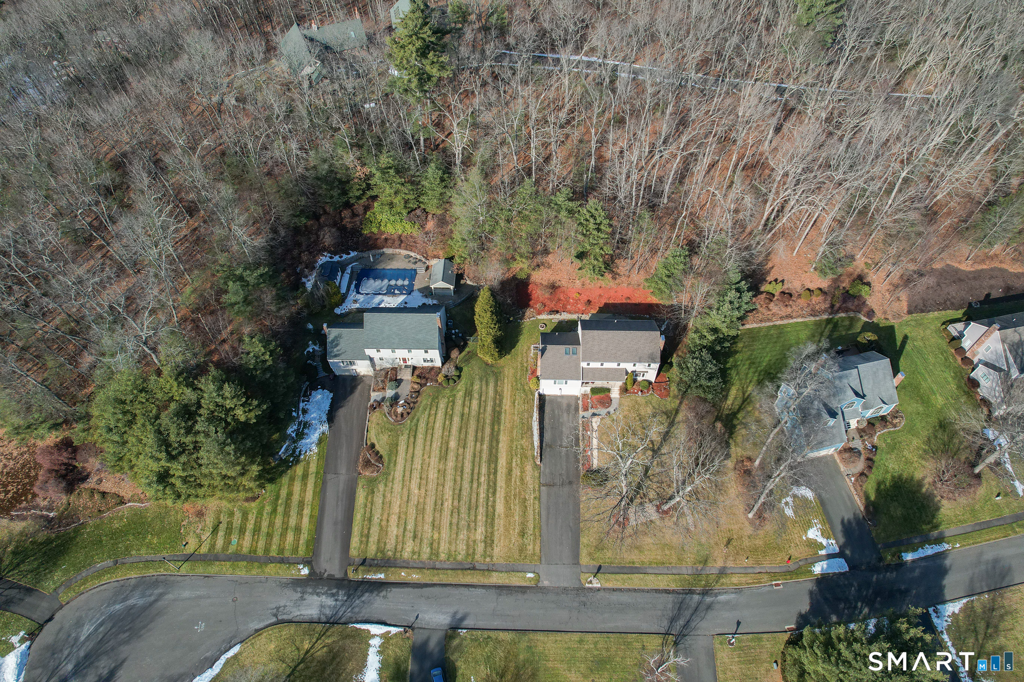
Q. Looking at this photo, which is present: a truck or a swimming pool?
swimming pool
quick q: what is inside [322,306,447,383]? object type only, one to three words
house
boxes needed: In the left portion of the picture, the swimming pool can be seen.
[358,266,417,295]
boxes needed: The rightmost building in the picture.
[946,313,1024,408]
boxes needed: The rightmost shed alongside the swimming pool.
[430,261,455,295]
